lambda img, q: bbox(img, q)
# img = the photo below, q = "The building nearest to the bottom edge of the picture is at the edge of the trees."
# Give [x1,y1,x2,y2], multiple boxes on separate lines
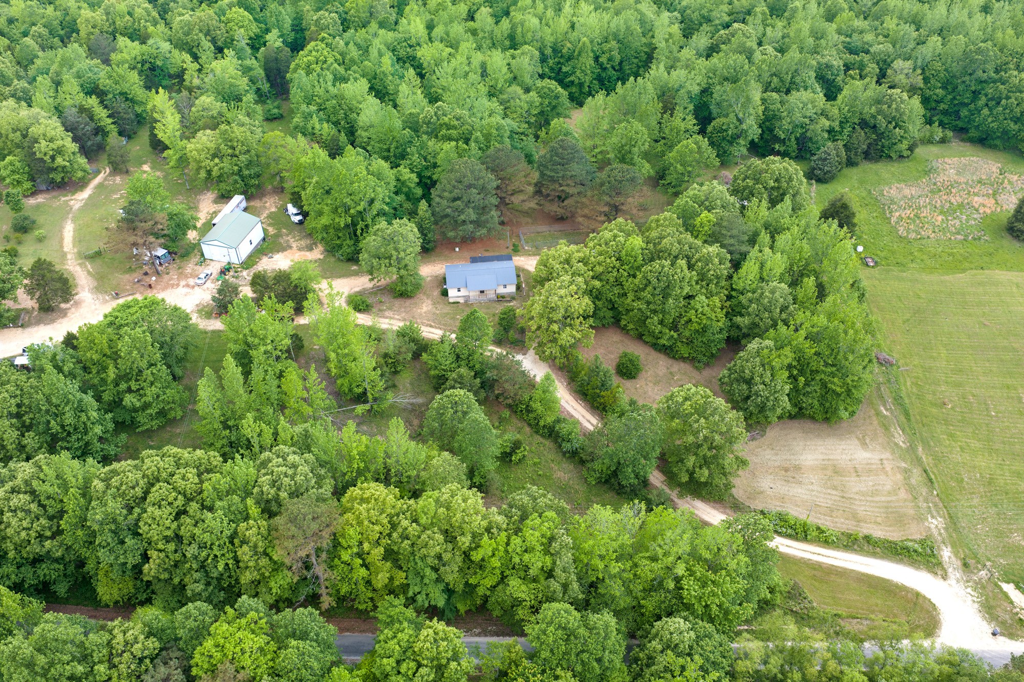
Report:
[446,254,517,303]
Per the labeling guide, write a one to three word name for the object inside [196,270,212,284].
car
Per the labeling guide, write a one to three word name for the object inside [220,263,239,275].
vehicle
